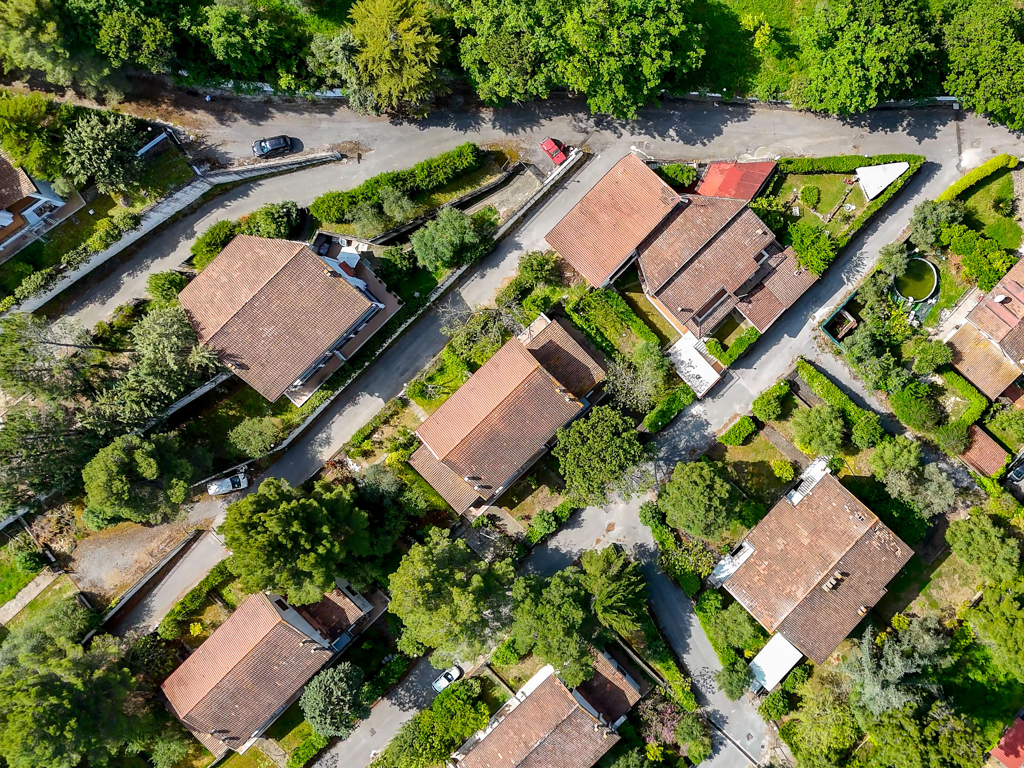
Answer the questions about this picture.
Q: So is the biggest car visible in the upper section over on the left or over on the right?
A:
left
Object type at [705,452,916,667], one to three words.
house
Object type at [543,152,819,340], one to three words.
house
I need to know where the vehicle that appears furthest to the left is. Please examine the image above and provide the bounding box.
[205,473,249,499]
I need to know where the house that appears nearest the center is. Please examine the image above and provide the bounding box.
[408,314,605,524]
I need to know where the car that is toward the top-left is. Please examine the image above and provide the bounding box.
[250,135,293,160]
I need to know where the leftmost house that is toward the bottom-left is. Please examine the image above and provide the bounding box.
[160,578,389,759]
